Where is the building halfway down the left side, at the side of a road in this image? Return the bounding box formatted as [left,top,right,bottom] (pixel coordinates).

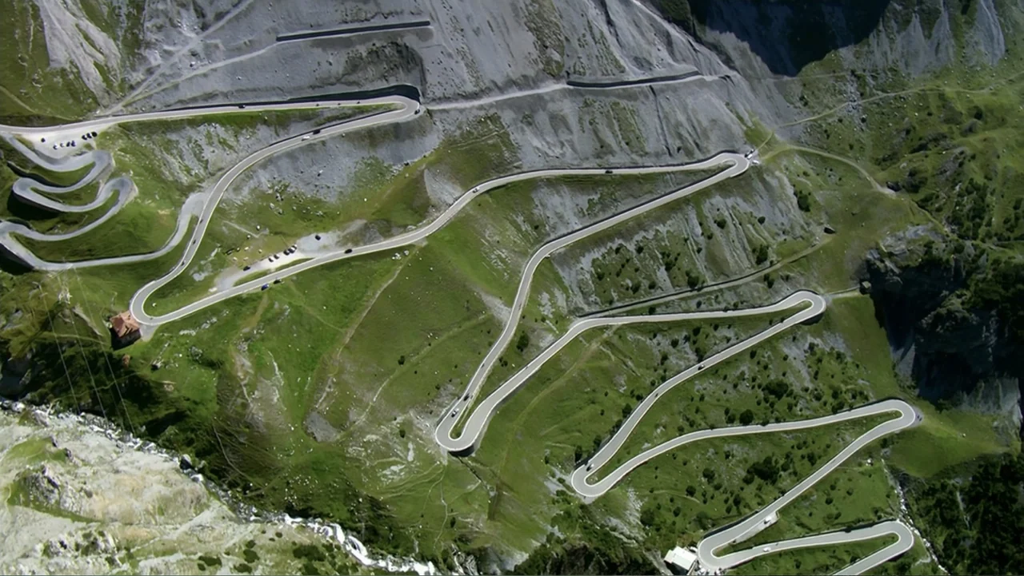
[106,311,140,351]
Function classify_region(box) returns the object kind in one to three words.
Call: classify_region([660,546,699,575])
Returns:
building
